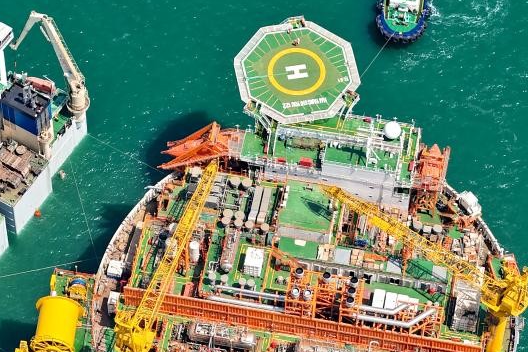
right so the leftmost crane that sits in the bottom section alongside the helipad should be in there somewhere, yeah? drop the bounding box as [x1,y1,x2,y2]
[107,158,215,352]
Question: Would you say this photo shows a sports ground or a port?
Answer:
port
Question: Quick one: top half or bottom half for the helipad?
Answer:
top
